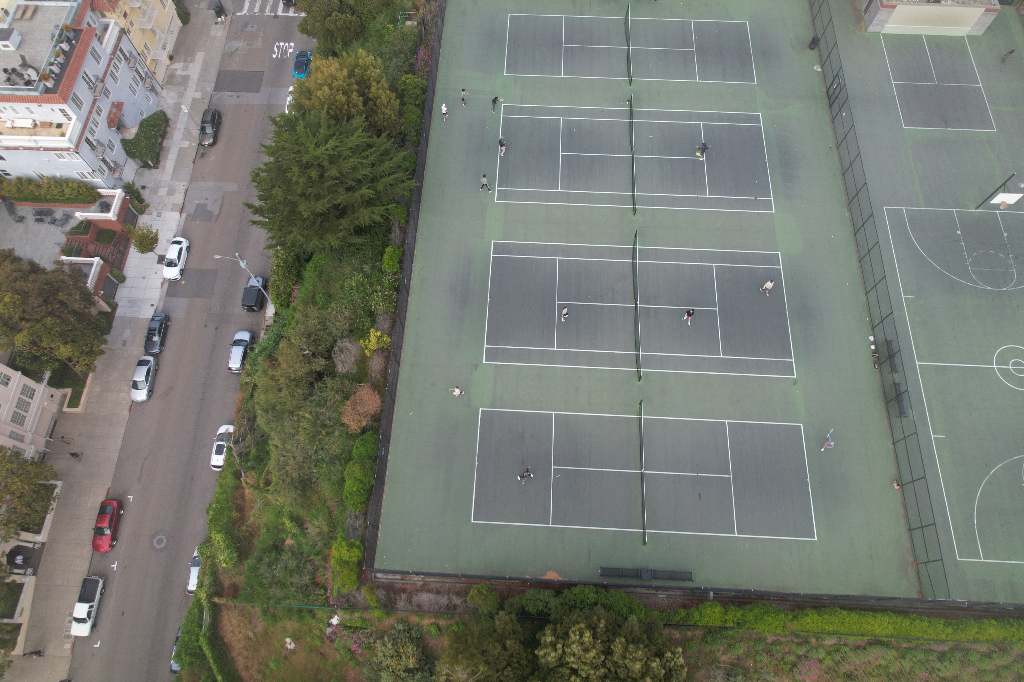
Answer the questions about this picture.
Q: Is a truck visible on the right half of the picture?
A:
No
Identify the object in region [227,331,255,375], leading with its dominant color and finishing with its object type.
white car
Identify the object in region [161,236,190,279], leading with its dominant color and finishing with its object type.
white car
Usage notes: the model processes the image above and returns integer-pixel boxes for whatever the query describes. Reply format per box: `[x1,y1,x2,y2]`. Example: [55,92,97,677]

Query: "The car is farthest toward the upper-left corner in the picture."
[194,108,221,147]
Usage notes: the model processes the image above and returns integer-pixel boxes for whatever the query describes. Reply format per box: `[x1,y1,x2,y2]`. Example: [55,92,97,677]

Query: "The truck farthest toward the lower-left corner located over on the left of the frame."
[68,575,107,639]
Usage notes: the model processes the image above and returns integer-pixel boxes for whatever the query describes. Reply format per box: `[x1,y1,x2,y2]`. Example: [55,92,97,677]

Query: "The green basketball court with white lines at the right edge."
[884,207,1024,564]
